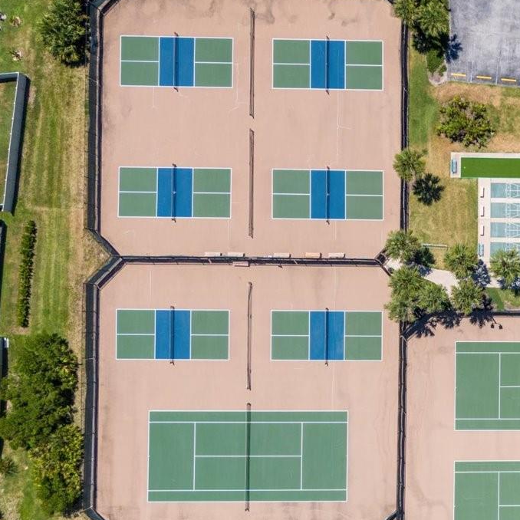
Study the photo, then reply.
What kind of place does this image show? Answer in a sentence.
The area seen from above is a sports ground.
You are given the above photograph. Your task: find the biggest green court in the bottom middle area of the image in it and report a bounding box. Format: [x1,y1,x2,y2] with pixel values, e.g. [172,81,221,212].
[147,403,349,512]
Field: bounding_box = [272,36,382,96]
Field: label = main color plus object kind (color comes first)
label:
green sports court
